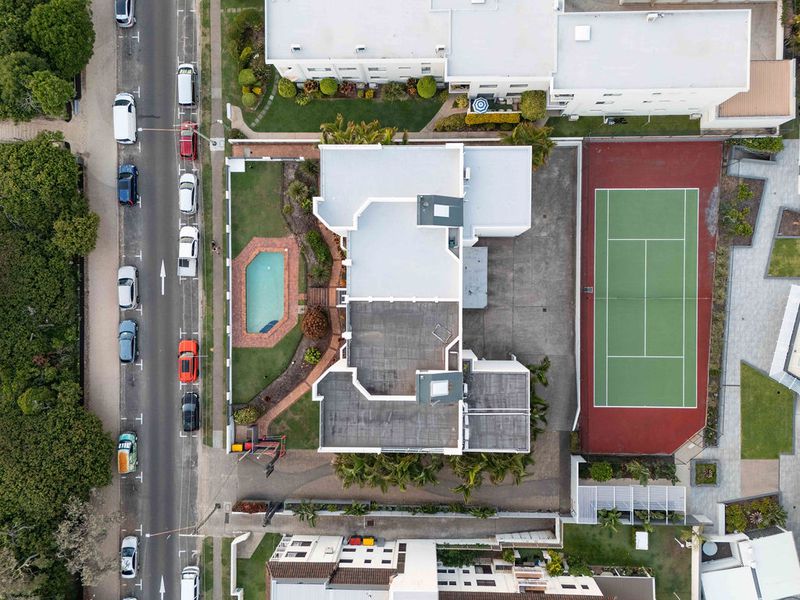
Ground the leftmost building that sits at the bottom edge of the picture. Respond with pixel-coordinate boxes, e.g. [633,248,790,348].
[266,535,346,600]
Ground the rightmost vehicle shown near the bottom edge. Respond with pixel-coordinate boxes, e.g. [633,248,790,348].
[180,563,203,600]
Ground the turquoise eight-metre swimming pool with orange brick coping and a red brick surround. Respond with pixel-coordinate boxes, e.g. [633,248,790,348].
[235,237,299,348]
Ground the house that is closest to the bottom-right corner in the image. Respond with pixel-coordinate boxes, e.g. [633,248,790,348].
[699,526,800,600]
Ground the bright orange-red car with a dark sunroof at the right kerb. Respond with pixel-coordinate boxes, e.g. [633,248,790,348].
[178,340,201,382]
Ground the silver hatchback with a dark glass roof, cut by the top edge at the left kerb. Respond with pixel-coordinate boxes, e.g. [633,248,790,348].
[115,0,138,27]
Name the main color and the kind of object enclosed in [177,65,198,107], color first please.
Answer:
white vehicle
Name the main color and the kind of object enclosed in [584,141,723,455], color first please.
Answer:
green tennis court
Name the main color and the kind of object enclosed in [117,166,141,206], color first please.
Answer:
blue car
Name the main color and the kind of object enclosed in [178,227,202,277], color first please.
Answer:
white truck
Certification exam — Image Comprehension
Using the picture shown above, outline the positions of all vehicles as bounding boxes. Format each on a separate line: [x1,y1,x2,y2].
[178,121,200,162]
[115,0,138,27]
[117,320,141,362]
[178,227,202,277]
[117,166,141,206]
[178,340,201,382]
[180,563,203,600]
[112,96,140,145]
[120,534,141,580]
[117,266,141,309]
[178,173,200,215]
[180,391,202,433]
[118,430,141,475]
[177,65,198,107]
